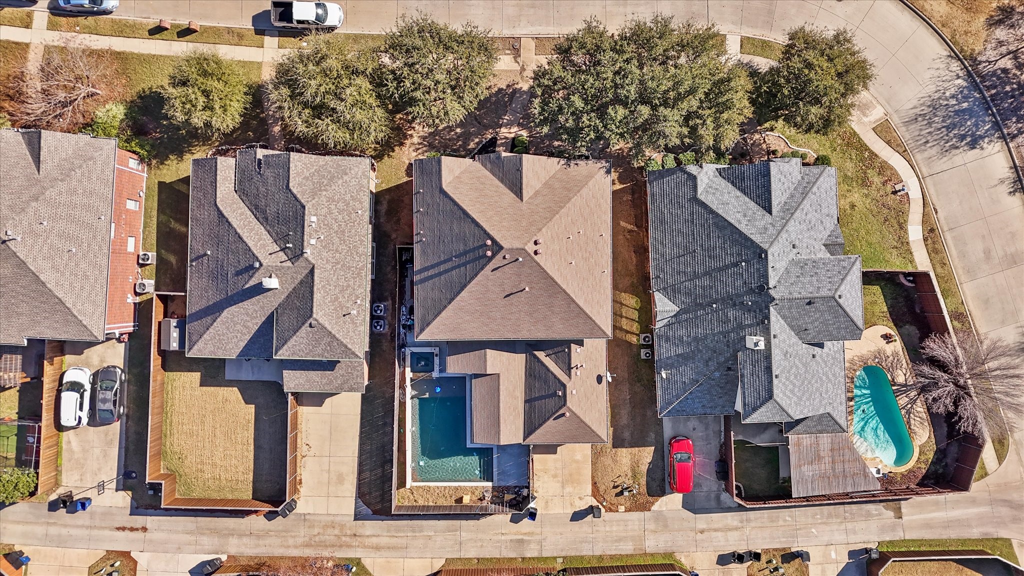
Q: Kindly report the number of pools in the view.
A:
two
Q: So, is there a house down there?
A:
Yes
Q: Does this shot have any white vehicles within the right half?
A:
No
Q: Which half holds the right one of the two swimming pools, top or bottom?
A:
bottom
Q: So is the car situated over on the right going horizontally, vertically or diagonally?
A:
vertically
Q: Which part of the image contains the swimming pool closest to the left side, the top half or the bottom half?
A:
bottom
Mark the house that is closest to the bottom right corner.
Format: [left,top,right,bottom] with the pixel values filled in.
[646,158,865,435]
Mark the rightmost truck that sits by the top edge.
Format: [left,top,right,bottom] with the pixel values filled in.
[270,0,343,31]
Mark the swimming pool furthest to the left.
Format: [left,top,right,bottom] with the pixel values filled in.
[405,346,496,488]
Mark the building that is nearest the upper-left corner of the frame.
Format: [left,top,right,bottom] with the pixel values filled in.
[0,129,147,346]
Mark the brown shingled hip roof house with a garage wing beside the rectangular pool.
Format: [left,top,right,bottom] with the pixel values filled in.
[413,154,613,445]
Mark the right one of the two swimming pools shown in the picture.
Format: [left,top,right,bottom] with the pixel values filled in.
[849,361,919,471]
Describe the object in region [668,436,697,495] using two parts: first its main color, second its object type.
red car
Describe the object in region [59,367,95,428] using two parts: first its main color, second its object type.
white car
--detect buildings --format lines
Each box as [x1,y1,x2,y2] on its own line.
[413,154,613,445]
[186,148,378,392]
[646,158,865,435]
[0,129,147,346]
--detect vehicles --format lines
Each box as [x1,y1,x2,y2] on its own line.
[668,436,697,495]
[95,367,127,424]
[270,0,343,31]
[59,367,95,428]
[59,0,122,16]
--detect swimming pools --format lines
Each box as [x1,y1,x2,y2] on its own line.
[405,346,496,488]
[849,361,919,471]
